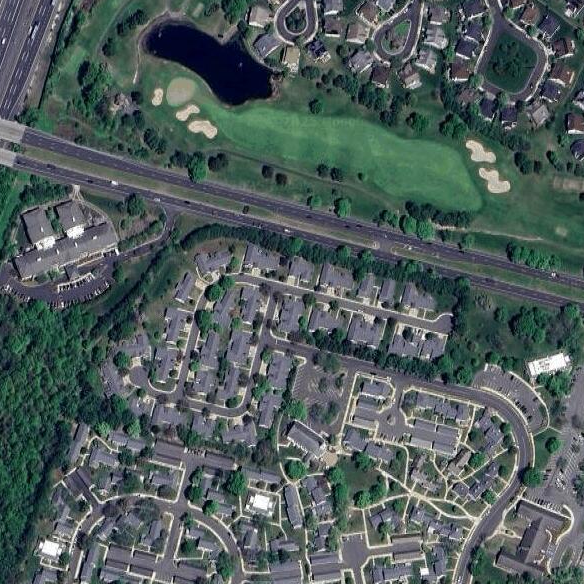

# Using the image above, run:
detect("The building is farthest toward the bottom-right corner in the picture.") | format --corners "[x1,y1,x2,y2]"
[495,499,566,579]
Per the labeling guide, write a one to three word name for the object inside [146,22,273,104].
pond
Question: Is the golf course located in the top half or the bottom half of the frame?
top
